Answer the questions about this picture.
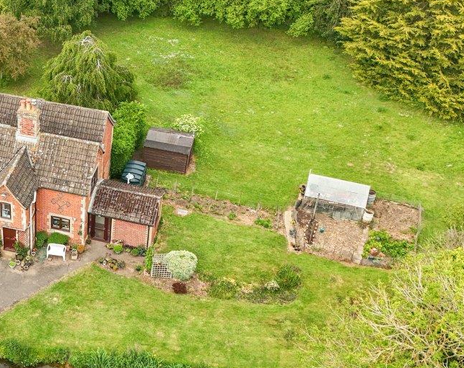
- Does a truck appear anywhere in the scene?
No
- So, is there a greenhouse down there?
Yes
